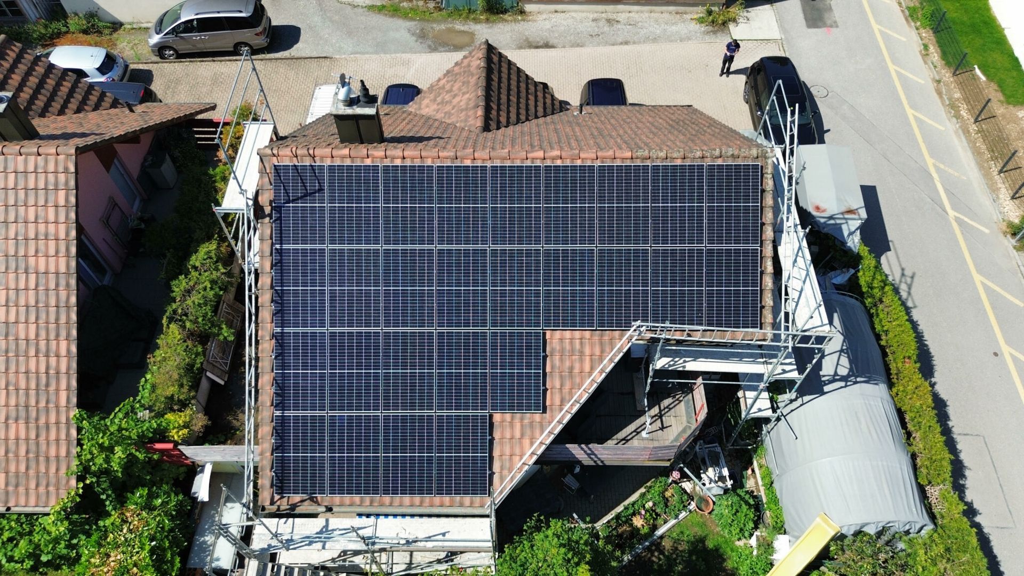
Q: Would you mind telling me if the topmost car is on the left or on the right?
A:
left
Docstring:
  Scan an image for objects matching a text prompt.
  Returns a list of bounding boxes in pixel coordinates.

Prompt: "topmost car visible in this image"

[142,0,274,60]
